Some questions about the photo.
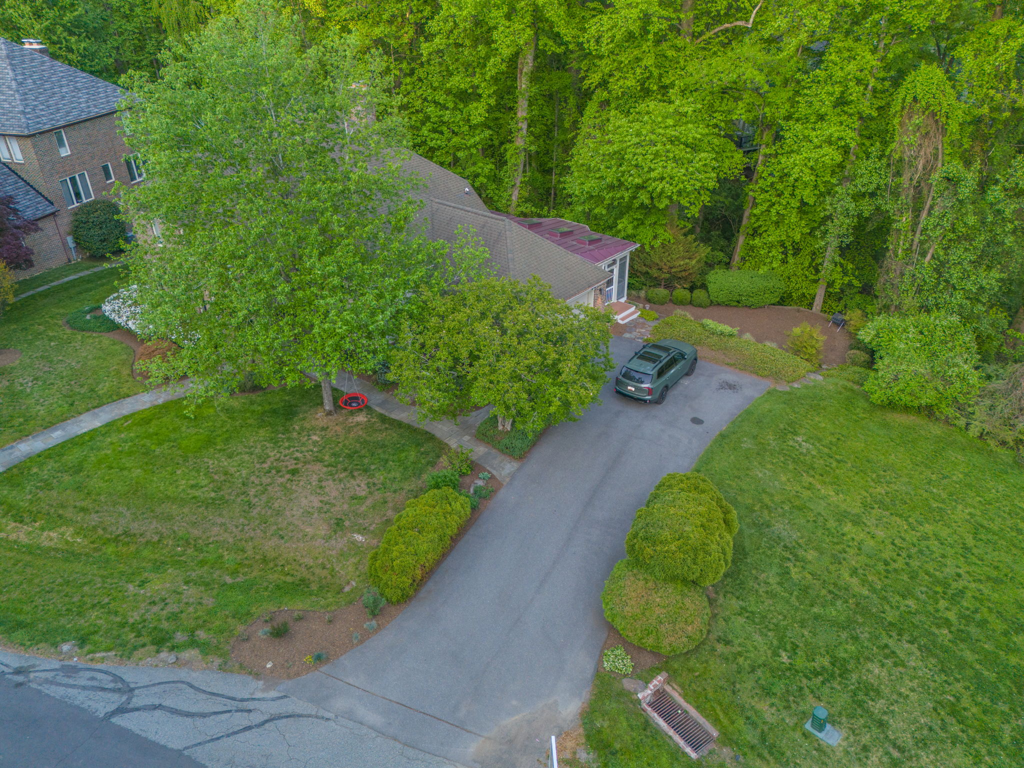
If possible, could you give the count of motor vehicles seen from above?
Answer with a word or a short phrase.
one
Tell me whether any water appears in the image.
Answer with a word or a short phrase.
No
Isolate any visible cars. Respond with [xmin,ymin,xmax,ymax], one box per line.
[614,339,701,406]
